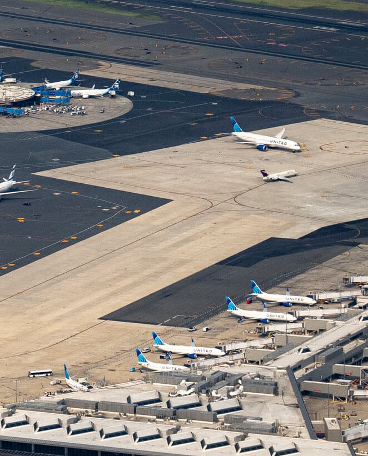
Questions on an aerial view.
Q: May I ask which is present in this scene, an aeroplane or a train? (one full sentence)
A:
I can see an aeroplane in this picture.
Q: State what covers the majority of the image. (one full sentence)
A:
Most of the picture is covered by paved ground.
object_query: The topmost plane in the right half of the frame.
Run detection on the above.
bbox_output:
[220,120,301,153]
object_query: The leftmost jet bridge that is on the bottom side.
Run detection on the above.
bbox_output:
[193,353,248,367]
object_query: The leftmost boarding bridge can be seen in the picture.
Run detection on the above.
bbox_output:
[0,105,27,118]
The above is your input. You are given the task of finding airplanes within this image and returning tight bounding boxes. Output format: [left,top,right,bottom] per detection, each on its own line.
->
[228,297,296,323]
[258,170,300,181]
[74,78,119,97]
[249,281,318,307]
[42,68,87,89]
[155,333,226,357]
[0,65,10,85]
[220,120,301,153]
[131,348,197,375]
[0,168,38,200]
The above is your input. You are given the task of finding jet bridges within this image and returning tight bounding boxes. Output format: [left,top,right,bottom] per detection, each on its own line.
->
[33,93,74,106]
[341,427,368,443]
[292,306,348,319]
[342,274,368,287]
[259,320,305,337]
[311,288,364,305]
[219,339,278,354]
[193,353,248,367]
[31,82,52,90]
[0,105,27,118]
[341,418,368,443]
[347,387,368,403]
